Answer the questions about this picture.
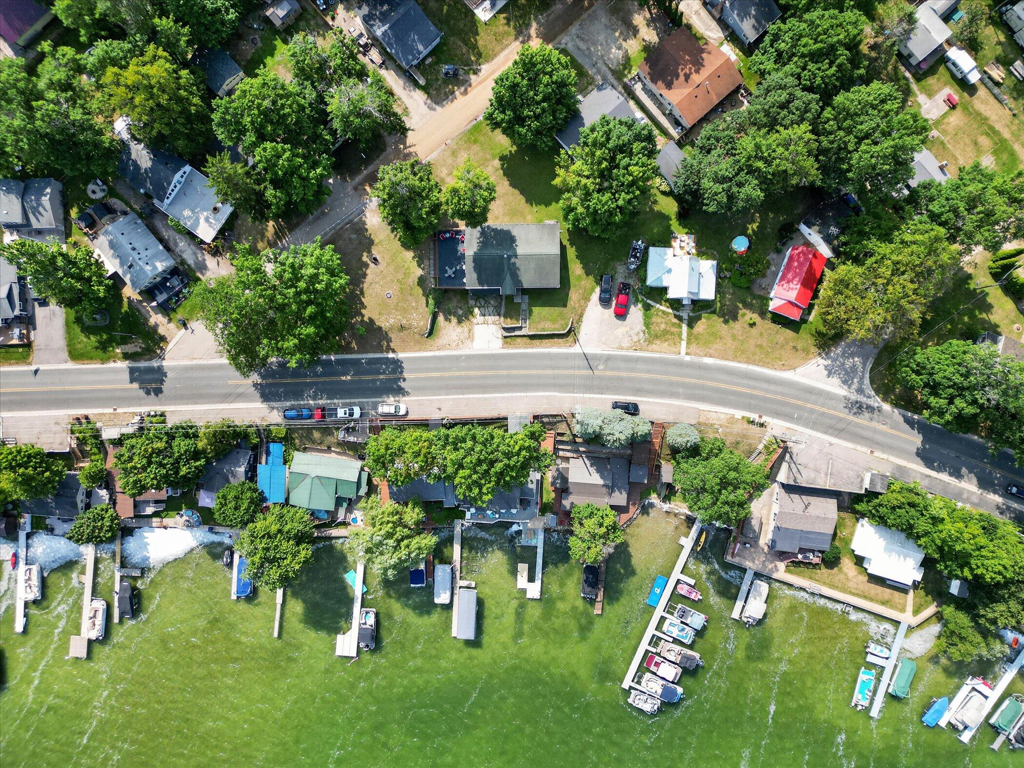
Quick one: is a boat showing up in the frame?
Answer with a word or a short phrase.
Yes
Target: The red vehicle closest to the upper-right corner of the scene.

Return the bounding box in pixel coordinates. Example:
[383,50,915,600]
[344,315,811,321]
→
[614,281,631,316]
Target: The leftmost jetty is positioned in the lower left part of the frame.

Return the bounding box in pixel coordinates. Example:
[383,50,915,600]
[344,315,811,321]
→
[15,530,30,633]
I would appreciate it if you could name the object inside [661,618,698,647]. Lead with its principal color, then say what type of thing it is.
white boat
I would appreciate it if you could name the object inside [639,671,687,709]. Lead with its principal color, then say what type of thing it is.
white boat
